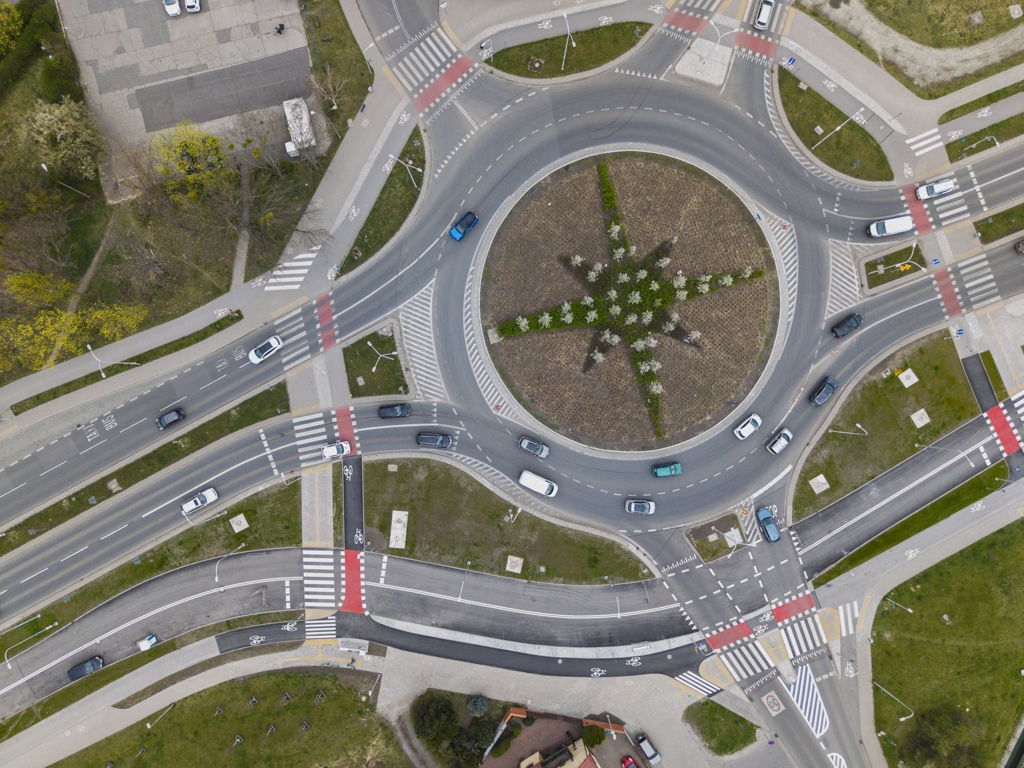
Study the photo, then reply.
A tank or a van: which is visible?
van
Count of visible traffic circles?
1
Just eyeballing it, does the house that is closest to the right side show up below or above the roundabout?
below it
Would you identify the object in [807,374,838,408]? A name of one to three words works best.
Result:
car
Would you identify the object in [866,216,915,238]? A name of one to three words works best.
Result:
vehicle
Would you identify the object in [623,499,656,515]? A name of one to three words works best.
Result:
car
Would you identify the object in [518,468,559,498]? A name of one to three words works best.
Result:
van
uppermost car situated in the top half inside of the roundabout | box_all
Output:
[451,212,478,242]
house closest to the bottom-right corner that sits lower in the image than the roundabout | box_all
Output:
[520,728,601,768]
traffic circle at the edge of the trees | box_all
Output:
[401,73,860,531]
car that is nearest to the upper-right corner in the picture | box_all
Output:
[914,179,954,201]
